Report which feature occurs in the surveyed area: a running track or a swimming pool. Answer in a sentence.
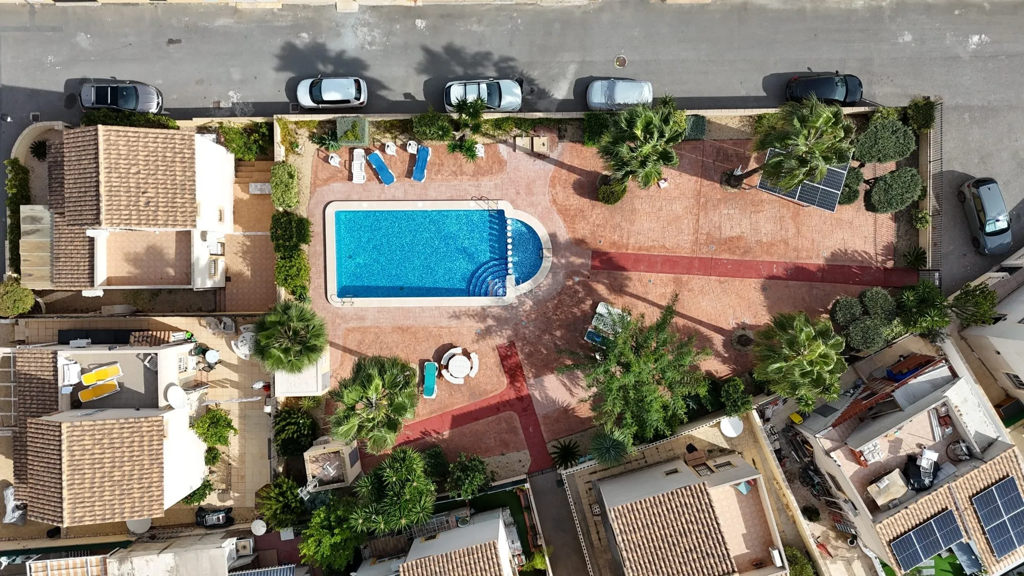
Visible in the photo is a swimming pool.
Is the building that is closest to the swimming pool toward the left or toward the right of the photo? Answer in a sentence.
You can find the building that is closest to the swimming pool on the left side of the picture.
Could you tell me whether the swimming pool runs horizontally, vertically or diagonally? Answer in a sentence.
In this picture, the swimming pool is oriented horizontally.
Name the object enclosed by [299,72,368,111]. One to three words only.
car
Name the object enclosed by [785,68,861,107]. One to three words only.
car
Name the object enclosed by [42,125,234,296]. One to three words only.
house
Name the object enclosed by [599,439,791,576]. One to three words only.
house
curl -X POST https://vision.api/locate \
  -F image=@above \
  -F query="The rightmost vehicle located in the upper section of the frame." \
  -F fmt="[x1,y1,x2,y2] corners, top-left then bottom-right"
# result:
[956,181,1009,251]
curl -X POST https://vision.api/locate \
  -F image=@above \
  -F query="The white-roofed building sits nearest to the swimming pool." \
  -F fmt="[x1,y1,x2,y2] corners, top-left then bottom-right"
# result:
[274,347,336,397]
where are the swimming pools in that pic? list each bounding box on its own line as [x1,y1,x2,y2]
[325,201,552,306]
